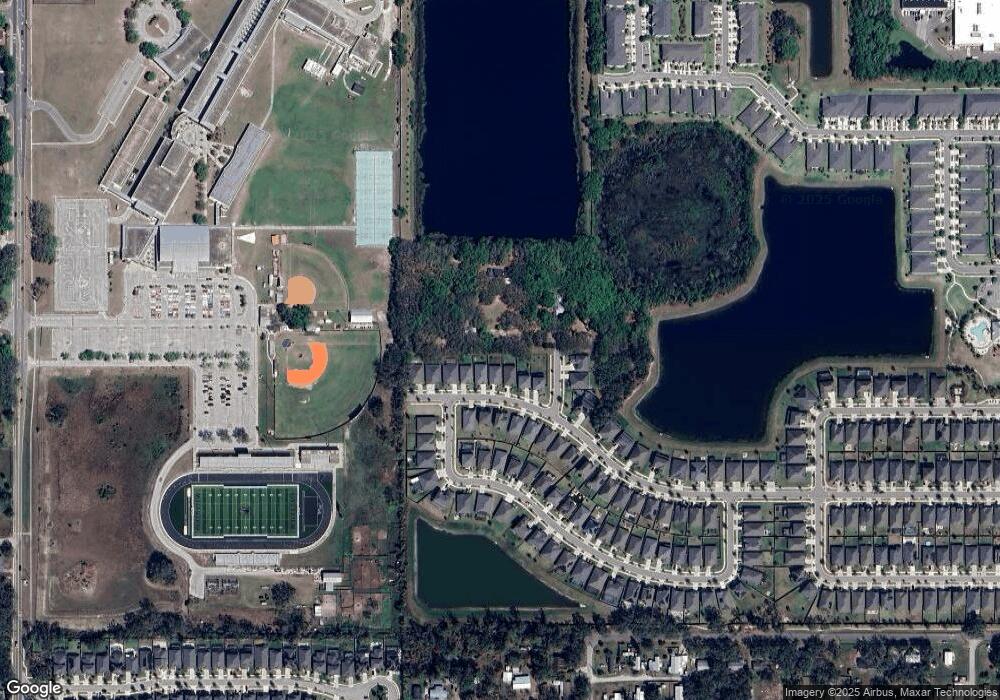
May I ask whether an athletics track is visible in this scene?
Yes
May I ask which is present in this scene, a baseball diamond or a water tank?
baseball diamond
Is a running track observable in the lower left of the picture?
Yes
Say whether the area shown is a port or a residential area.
residential area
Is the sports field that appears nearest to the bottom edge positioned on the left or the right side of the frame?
left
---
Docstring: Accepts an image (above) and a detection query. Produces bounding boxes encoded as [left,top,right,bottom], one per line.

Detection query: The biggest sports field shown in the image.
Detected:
[192,485,299,538]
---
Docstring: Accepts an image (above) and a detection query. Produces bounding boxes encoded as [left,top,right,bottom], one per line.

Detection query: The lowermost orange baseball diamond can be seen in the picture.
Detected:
[282,339,327,387]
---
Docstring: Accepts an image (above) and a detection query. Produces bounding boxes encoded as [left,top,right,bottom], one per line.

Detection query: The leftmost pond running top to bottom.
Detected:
[798,0,833,78]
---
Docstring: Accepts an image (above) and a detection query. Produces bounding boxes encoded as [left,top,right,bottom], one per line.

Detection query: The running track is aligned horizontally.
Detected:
[160,472,333,549]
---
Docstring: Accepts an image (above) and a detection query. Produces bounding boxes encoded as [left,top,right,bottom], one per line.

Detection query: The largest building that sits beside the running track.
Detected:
[300,447,338,466]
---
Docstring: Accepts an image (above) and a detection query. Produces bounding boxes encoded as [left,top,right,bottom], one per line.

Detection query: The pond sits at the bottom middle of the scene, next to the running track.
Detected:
[416,516,578,607]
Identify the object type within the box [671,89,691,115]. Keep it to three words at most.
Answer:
house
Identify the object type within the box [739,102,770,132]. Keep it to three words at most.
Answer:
house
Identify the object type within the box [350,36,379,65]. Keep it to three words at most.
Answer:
building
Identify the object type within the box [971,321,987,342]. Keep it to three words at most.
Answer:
swimming pool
